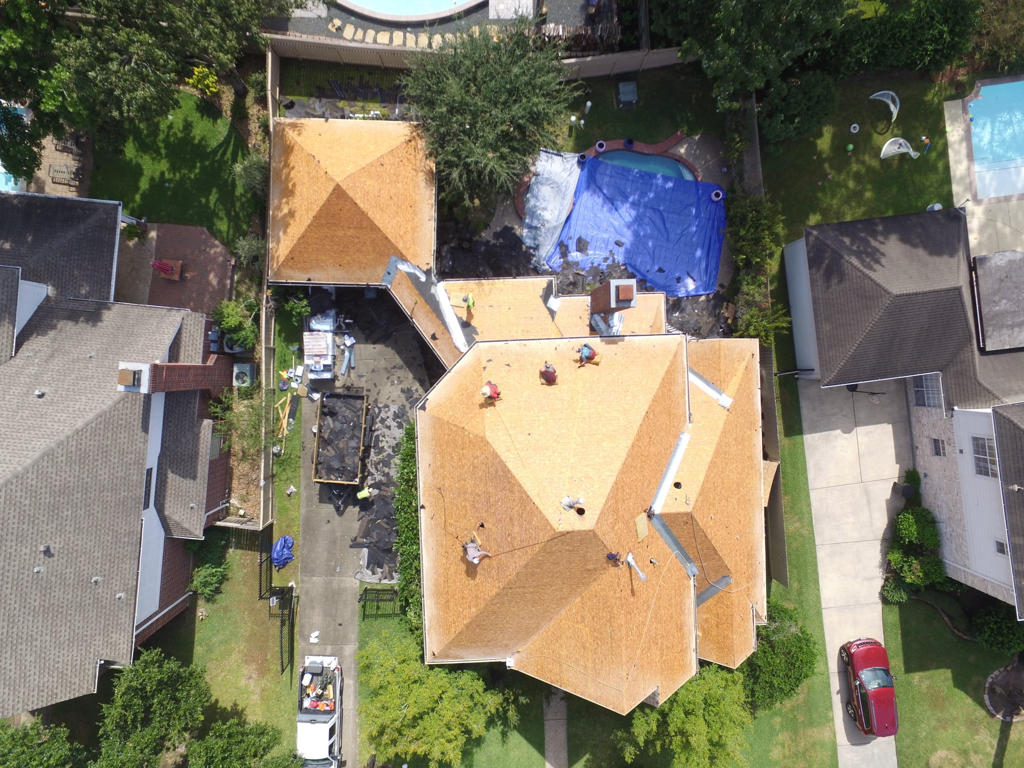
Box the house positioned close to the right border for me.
[784,210,1024,620]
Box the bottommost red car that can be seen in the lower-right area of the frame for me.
[841,632,898,737]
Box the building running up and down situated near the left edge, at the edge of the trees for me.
[0,186,236,718]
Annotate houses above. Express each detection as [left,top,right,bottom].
[784,210,1024,620]
[0,186,236,718]
[414,275,781,714]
